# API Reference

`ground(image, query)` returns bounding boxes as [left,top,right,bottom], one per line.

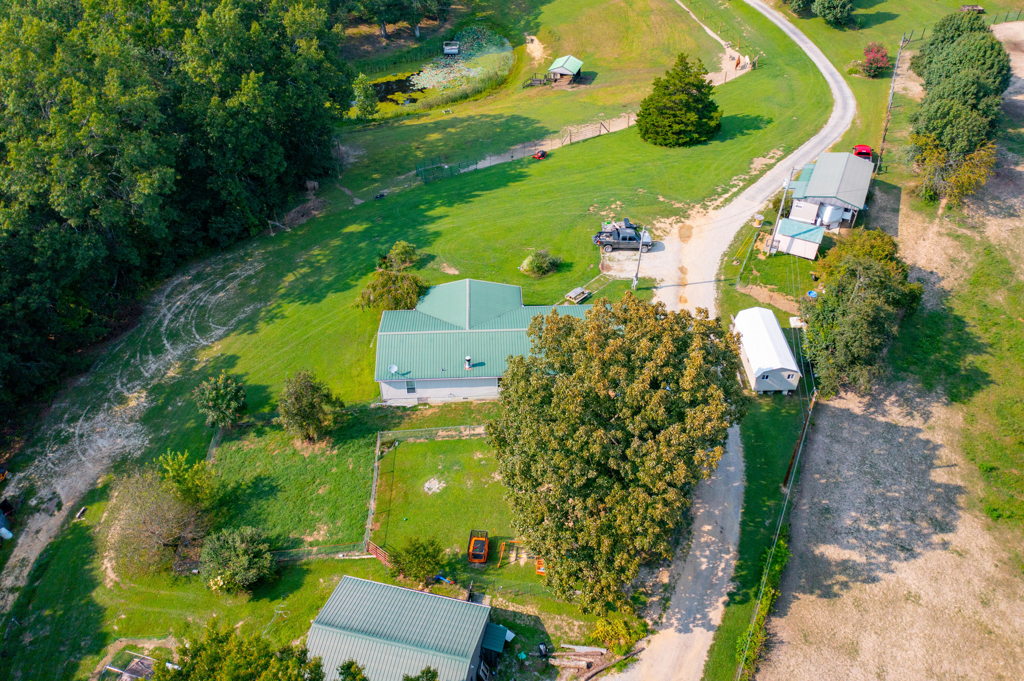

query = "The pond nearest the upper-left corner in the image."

[348,26,515,121]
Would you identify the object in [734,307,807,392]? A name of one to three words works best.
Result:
shed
